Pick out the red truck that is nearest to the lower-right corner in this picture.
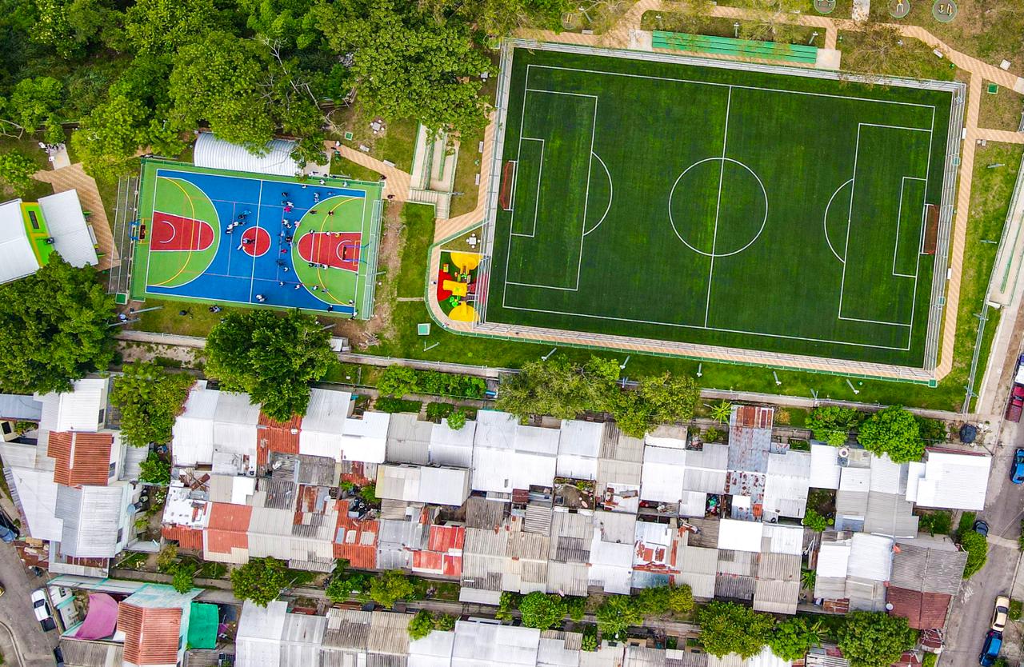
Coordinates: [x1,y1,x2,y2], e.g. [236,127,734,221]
[1003,382,1024,425]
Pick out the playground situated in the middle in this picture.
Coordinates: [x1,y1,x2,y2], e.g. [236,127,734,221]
[437,251,483,322]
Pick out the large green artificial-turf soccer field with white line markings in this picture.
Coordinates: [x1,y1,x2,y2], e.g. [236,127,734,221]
[477,42,959,369]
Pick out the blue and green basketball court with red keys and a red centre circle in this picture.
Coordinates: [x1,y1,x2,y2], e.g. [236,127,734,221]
[129,159,383,320]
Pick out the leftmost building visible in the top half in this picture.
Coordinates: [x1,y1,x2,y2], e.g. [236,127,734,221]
[0,189,98,280]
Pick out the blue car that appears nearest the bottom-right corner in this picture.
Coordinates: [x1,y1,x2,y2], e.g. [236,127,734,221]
[980,628,1004,667]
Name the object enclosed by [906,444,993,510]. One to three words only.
house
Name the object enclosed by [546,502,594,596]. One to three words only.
house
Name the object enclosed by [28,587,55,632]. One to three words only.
truck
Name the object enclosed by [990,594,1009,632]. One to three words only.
car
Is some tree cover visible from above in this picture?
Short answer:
Yes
